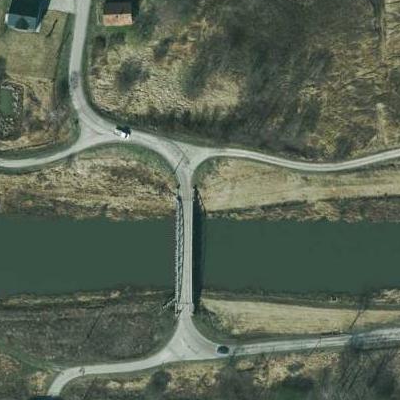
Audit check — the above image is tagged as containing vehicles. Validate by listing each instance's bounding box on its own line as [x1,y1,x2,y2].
[115,129,129,139]
[217,347,230,353]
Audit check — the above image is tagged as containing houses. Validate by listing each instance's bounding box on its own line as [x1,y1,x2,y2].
[103,1,133,26]
[6,0,40,37]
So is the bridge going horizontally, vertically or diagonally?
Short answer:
vertically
